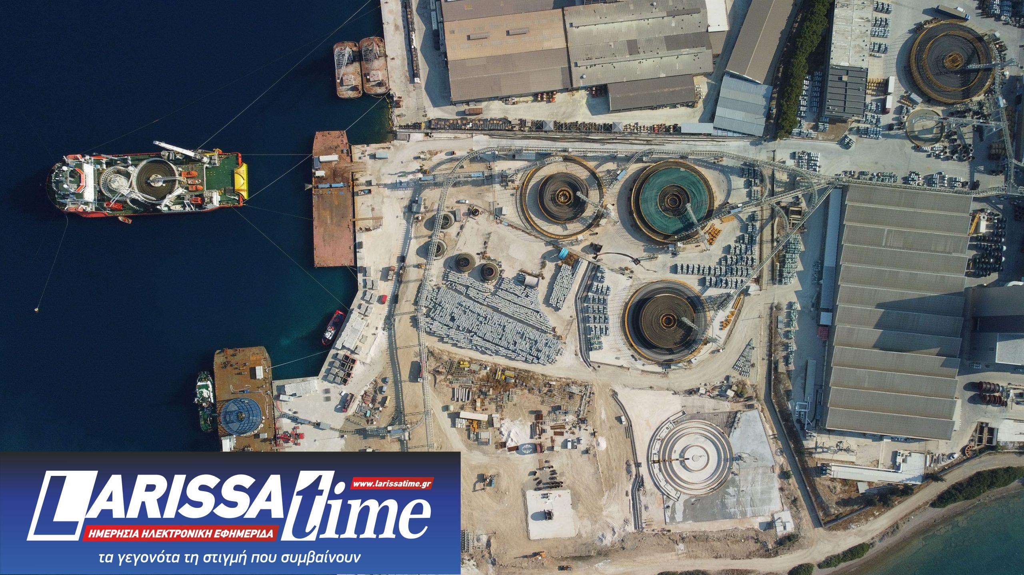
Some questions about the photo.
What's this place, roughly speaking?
port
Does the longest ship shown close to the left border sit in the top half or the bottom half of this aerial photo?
top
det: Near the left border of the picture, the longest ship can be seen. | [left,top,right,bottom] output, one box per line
[45,139,252,216]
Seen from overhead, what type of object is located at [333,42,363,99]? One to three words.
ship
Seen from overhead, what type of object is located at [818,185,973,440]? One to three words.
building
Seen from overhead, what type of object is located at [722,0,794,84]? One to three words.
building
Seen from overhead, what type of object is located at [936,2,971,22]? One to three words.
vehicle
